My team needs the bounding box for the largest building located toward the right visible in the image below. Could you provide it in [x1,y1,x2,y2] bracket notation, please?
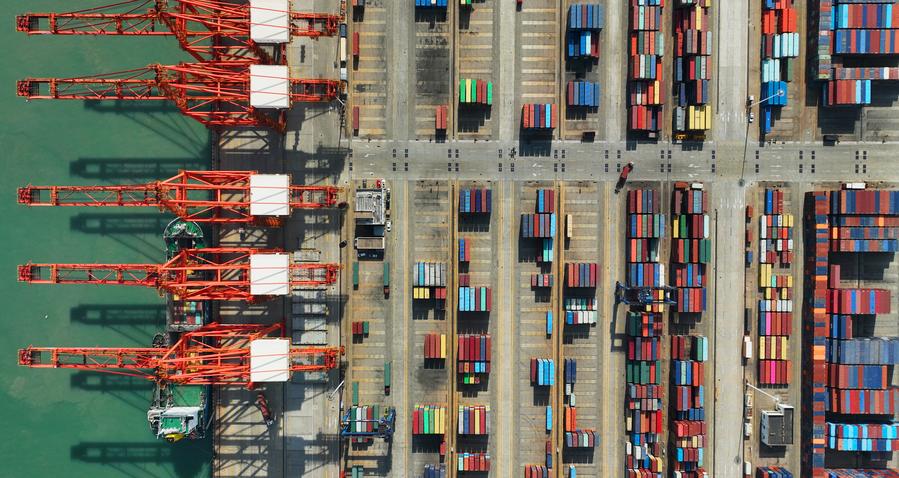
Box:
[761,400,795,445]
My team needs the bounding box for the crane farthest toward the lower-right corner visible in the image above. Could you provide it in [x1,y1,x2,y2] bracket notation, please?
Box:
[618,280,679,307]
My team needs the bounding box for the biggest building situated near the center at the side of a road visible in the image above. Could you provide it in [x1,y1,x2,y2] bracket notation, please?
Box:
[356,190,385,224]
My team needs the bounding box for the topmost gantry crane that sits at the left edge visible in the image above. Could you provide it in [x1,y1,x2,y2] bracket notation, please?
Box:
[17,0,342,77]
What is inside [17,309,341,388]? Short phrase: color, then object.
red container crane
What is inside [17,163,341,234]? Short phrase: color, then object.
red container crane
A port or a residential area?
port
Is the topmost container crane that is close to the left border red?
Yes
